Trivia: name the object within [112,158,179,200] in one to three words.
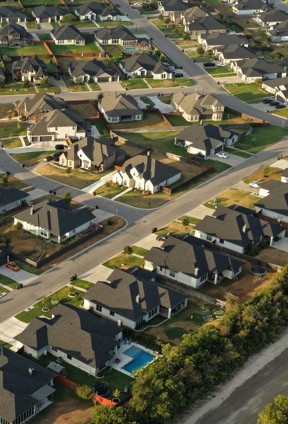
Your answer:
house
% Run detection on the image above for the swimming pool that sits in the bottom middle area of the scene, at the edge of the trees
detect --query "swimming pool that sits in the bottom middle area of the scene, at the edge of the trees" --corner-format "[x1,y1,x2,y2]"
[111,340,160,377]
